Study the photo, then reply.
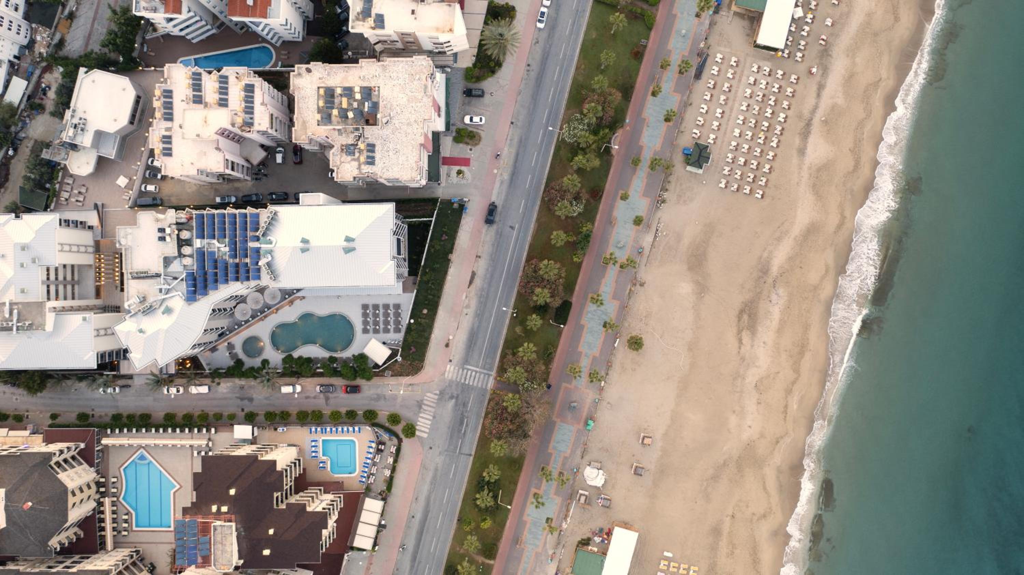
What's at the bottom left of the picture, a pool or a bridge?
pool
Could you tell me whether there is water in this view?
Yes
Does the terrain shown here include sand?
Yes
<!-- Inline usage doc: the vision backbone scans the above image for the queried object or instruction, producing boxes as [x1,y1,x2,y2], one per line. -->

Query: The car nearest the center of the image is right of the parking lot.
[485,203,497,224]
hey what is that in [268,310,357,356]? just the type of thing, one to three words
swimming pool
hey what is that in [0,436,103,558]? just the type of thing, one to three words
building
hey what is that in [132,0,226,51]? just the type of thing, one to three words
house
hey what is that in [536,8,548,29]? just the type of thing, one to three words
vehicle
